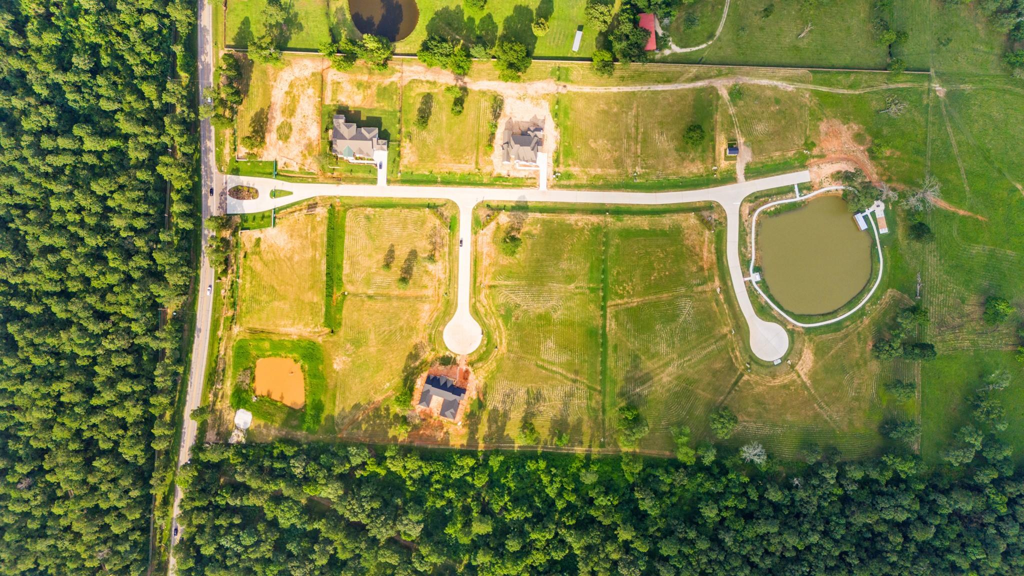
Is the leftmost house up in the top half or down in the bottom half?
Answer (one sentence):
The leftmost house is in the top half of the image.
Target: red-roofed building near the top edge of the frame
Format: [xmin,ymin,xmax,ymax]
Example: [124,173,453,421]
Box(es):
[636,13,656,53]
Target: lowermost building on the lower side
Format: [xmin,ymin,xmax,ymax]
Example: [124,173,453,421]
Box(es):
[420,373,470,422]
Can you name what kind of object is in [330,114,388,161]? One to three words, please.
house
